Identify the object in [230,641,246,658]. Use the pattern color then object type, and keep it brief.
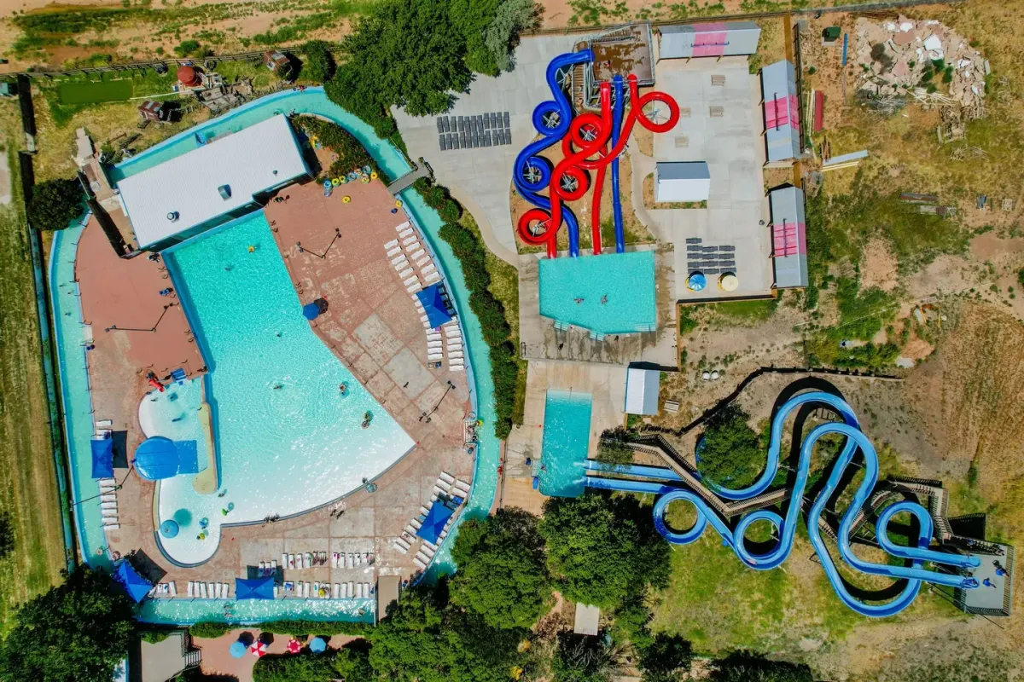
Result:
blue umbrella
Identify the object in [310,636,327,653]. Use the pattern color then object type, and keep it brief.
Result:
blue umbrella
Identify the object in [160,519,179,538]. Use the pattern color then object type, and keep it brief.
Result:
blue fountain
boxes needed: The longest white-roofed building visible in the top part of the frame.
[116,113,316,252]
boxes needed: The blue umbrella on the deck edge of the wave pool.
[302,301,321,319]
